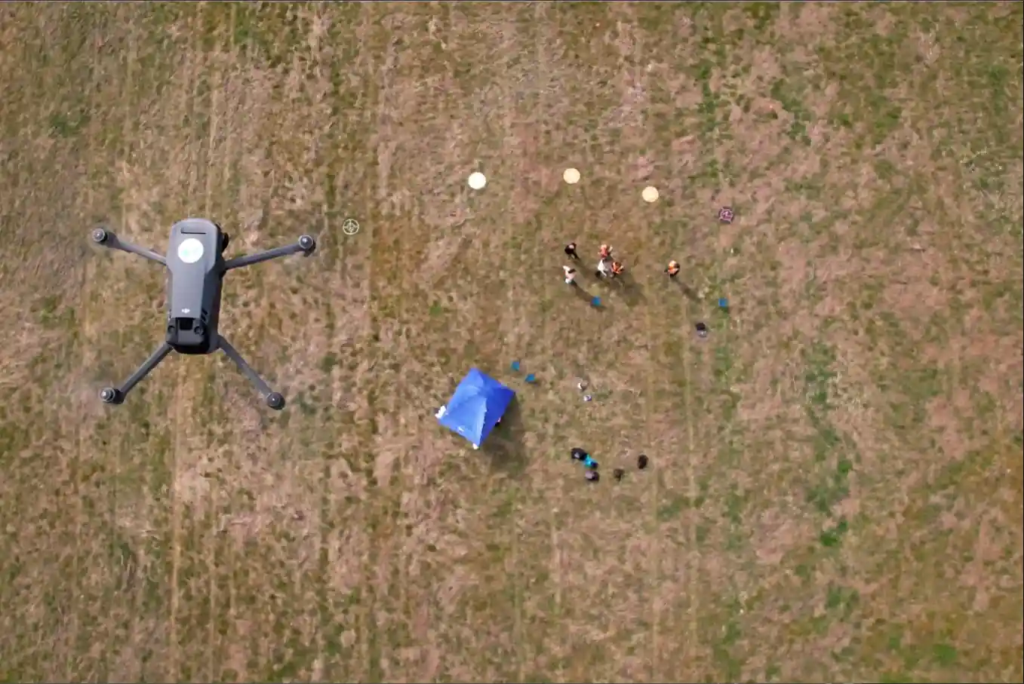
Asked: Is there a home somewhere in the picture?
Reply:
No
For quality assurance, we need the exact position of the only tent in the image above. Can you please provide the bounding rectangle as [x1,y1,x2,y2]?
[438,368,516,450]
